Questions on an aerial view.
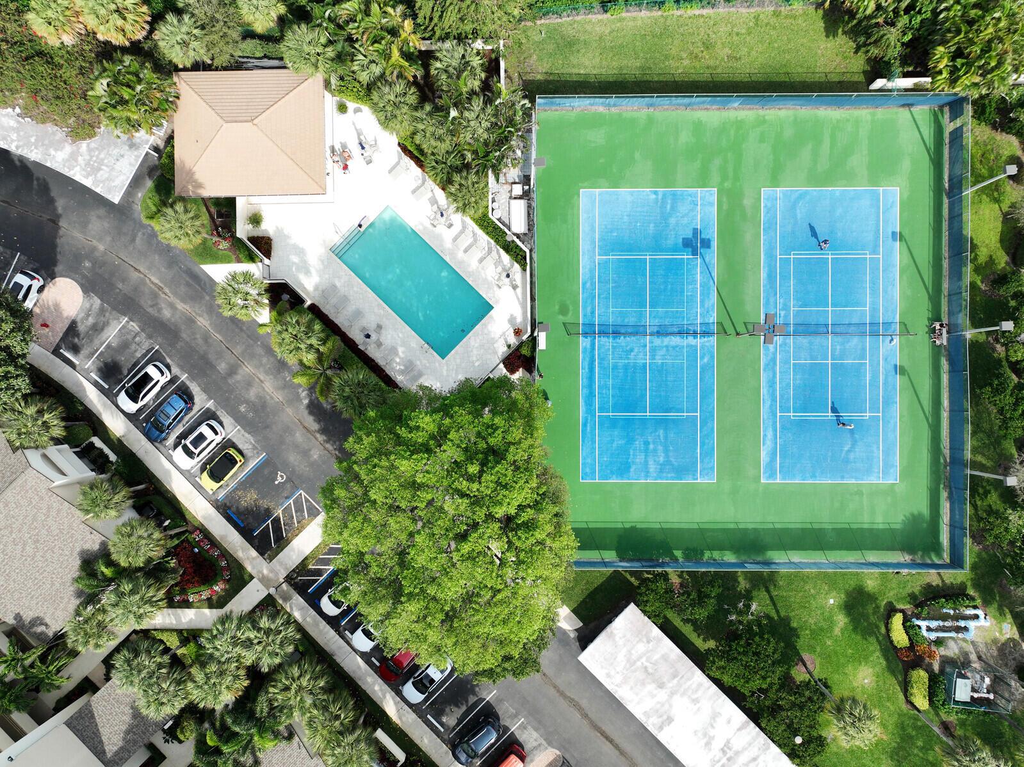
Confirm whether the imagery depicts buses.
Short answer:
No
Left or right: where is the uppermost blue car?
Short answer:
left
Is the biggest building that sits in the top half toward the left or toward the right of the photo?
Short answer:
left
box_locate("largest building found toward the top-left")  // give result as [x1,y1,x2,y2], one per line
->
[173,70,330,201]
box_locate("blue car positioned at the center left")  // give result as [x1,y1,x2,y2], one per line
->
[147,391,194,442]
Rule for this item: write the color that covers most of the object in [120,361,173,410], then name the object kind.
white car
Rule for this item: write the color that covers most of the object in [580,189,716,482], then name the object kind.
blue tennis court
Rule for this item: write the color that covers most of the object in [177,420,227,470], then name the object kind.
white car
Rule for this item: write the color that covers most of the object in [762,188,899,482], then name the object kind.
blue tennis court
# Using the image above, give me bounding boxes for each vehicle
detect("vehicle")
[381,635,431,679]
[120,361,173,410]
[177,420,227,470]
[454,711,503,762]
[147,391,194,442]
[203,448,245,490]
[404,653,454,700]
[491,742,530,767]
[321,568,372,613]
[2,272,45,327]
